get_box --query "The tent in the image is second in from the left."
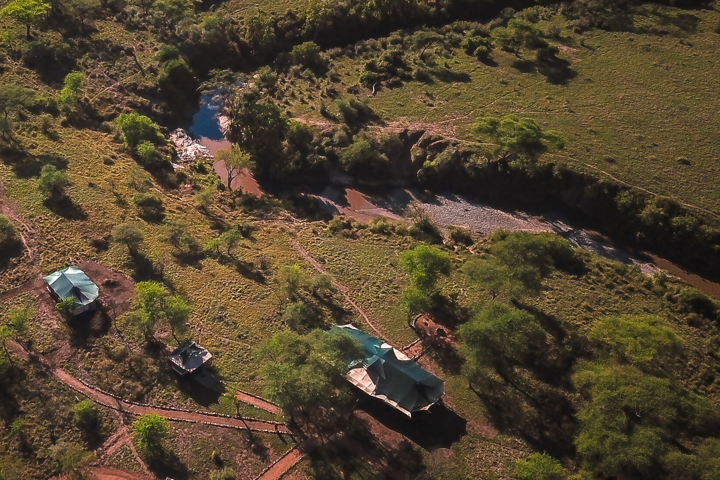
[169,347,213,387]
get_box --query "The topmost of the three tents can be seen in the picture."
[44,266,100,319]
